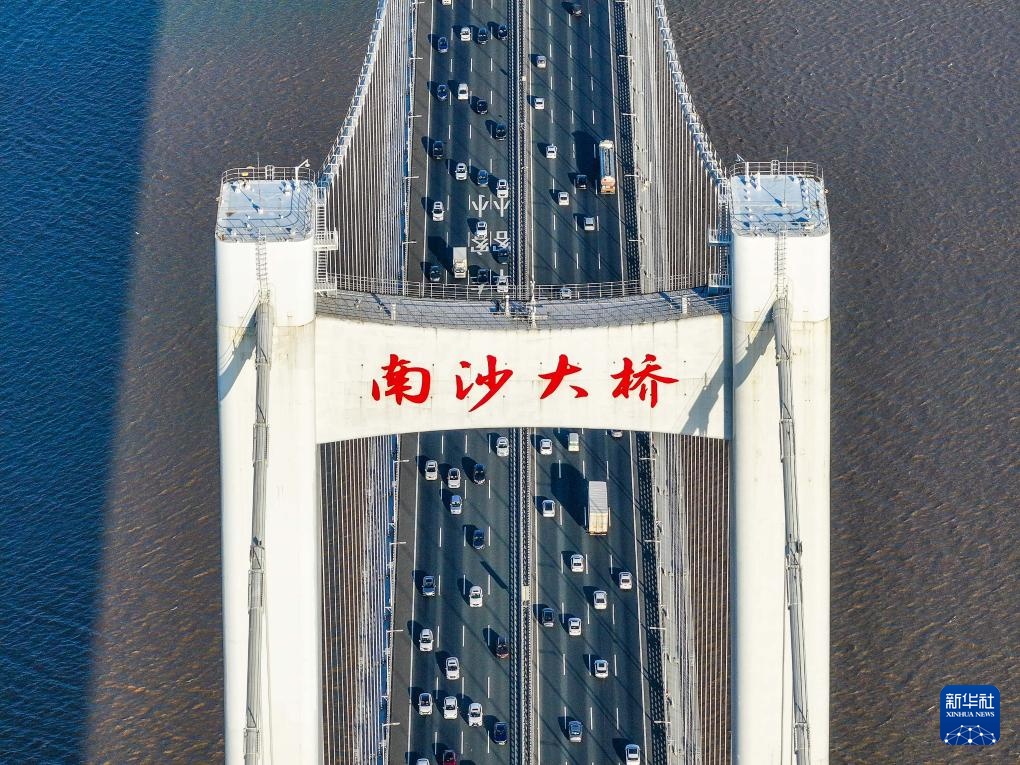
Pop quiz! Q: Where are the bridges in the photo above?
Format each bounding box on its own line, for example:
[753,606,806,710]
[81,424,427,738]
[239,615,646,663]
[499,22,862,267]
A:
[215,0,831,765]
